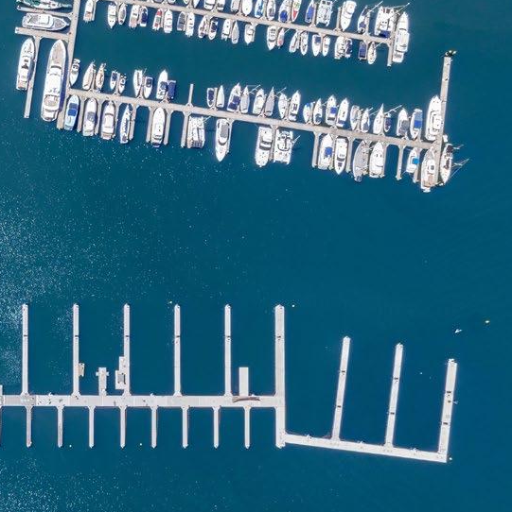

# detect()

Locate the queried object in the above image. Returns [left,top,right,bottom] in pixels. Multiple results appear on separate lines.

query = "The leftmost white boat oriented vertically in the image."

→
[15,37,34,92]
